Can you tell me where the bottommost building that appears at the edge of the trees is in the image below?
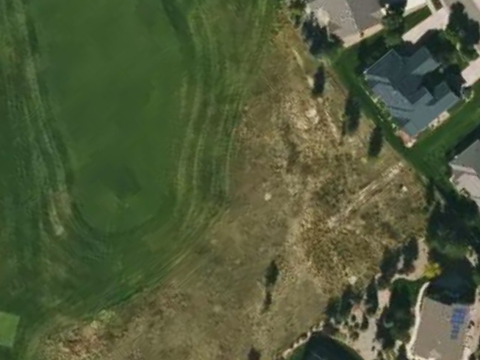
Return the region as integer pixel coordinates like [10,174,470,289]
[415,297,474,360]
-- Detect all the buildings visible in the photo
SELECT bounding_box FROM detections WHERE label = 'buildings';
[415,297,474,360]
[313,0,392,47]
[449,143,480,210]
[363,48,458,137]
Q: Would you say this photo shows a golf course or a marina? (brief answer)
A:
golf course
